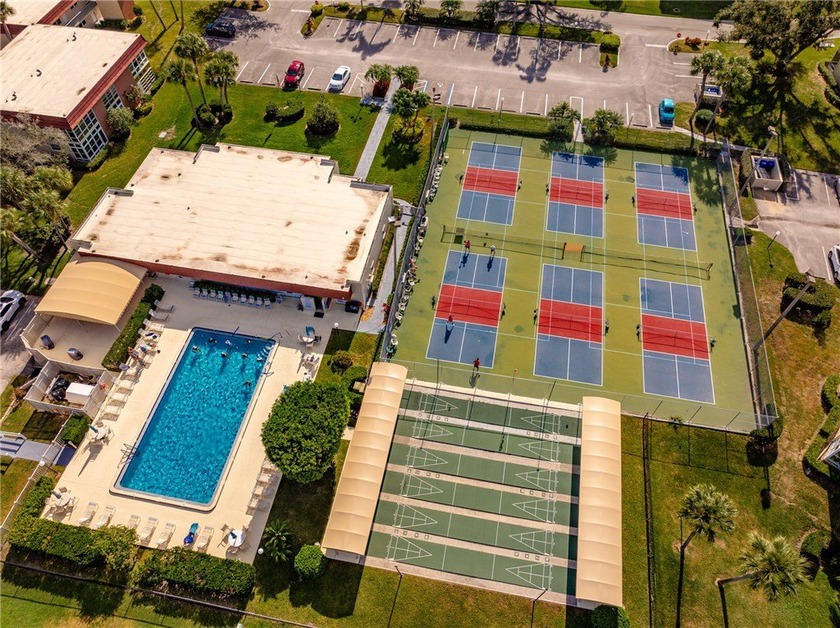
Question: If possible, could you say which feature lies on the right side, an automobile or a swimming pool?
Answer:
automobile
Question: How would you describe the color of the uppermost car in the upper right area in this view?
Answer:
blue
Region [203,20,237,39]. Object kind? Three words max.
car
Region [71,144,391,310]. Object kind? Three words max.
building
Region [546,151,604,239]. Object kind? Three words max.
sports court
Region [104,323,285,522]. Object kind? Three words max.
swimming pool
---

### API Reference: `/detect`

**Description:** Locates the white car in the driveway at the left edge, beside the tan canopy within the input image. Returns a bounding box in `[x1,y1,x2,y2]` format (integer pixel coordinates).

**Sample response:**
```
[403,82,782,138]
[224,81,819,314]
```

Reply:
[0,284,29,325]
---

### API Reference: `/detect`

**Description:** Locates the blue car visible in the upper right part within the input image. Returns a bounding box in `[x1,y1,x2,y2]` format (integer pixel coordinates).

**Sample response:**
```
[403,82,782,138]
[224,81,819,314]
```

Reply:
[657,102,677,125]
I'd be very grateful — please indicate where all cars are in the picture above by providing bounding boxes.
[283,65,305,88]
[330,69,351,93]
[0,284,29,325]
[825,245,840,279]
[203,20,237,39]
[657,102,677,125]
